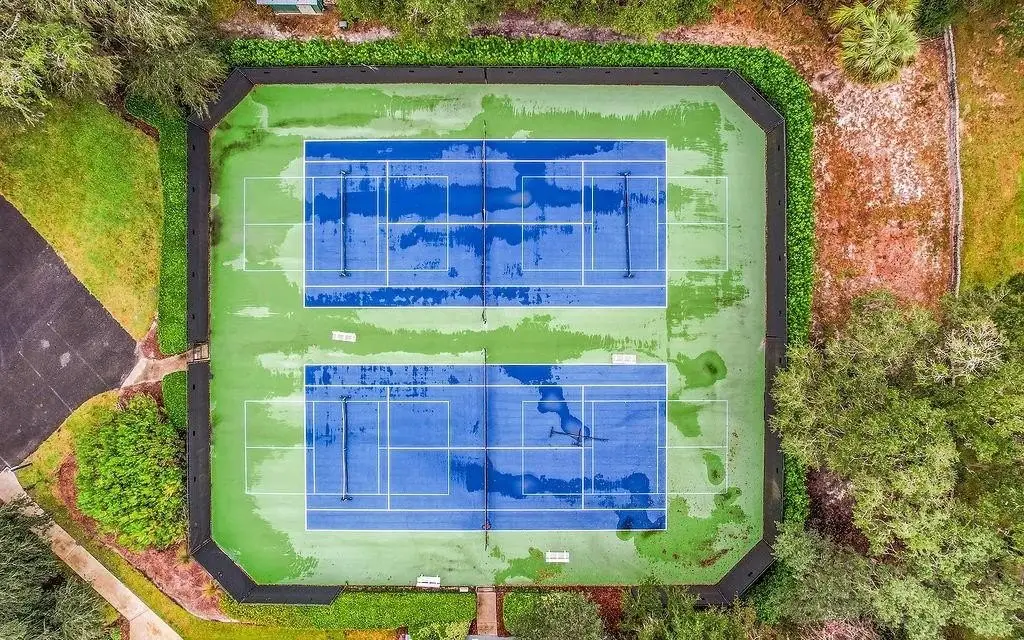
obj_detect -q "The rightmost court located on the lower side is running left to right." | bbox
[522,401,729,494]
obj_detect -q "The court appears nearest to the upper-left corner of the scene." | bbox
[244,177,448,271]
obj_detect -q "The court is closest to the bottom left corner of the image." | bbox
[245,401,449,495]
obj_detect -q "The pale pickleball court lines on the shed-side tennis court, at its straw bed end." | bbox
[522,177,729,271]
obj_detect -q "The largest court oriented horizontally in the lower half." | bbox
[304,364,668,531]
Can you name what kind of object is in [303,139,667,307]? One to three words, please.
tennis court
